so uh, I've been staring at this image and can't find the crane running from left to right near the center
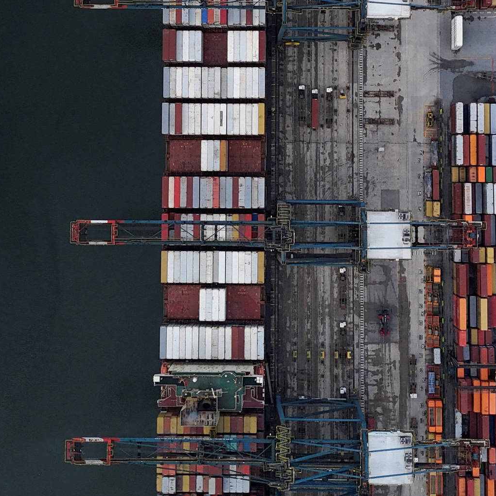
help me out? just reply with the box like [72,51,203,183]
[66,185,485,278]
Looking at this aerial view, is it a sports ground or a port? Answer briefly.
port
